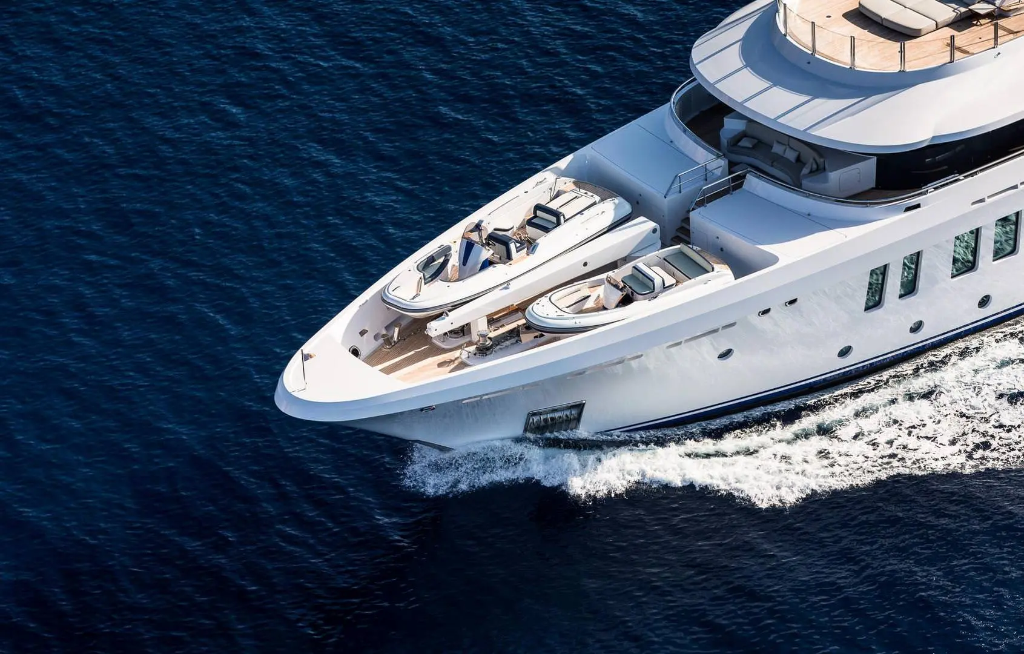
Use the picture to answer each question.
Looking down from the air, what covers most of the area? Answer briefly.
water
